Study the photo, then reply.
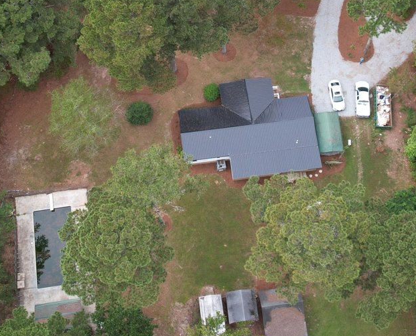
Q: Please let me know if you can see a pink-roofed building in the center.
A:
No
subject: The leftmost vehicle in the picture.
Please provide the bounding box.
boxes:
[328,81,346,112]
